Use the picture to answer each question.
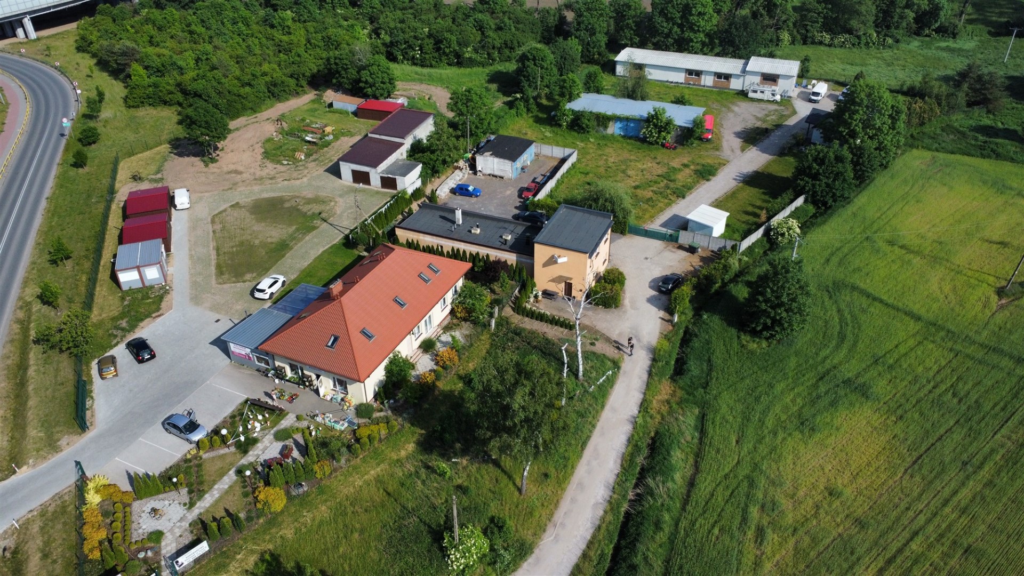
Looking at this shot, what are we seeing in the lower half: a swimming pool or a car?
car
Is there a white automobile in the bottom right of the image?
No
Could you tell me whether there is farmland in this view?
Yes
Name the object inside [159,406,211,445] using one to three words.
car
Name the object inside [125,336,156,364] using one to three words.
car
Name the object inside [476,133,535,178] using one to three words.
building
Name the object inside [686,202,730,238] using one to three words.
shed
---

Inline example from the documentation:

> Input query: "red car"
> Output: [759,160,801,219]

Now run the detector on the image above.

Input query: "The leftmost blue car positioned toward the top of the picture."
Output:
[452,183,483,199]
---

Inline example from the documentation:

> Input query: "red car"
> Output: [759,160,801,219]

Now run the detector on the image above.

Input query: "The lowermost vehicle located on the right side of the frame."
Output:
[654,269,685,291]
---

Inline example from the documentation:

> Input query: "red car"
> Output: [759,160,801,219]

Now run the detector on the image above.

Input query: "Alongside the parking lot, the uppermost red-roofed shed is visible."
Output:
[126,189,175,221]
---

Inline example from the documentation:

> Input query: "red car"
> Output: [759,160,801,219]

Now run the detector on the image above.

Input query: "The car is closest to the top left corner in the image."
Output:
[174,190,191,209]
